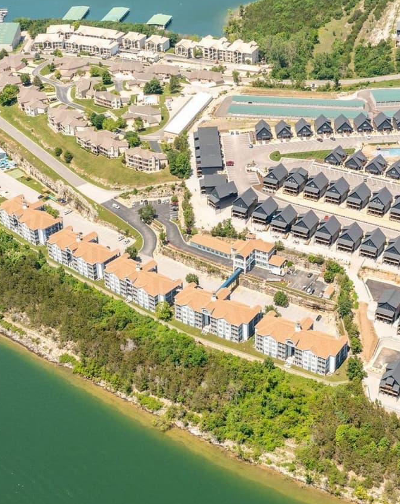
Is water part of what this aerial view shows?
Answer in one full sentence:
Yes, the picture does contain water.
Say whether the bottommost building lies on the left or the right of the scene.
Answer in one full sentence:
The bottommost building appears in the right half of the scene.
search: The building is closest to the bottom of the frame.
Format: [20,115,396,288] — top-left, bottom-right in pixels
[376,360,400,403]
